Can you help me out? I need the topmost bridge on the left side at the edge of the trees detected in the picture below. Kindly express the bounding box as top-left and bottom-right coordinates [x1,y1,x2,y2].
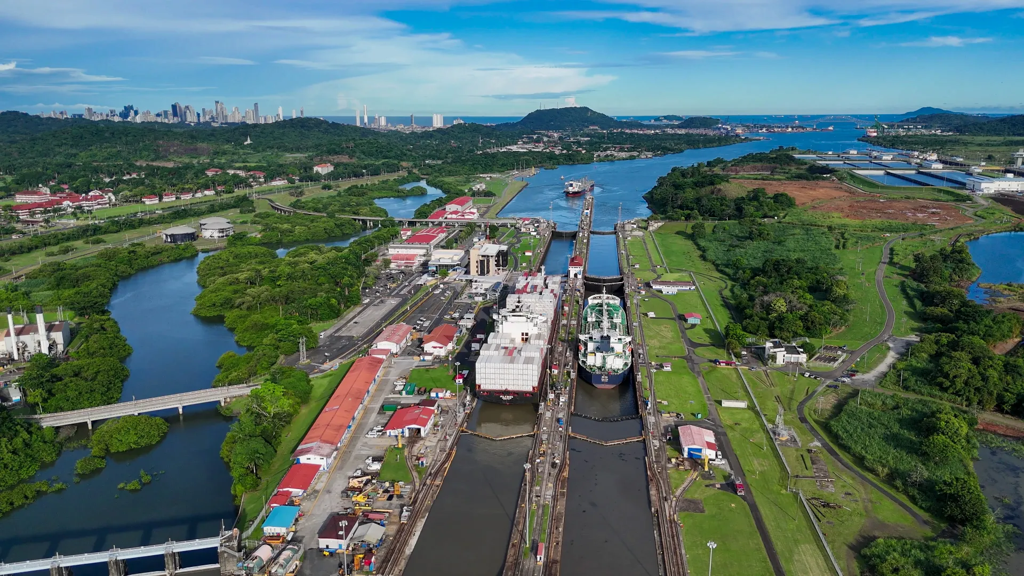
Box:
[260,198,515,229]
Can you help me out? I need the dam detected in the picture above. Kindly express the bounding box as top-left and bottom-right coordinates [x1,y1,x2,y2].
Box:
[0,515,257,576]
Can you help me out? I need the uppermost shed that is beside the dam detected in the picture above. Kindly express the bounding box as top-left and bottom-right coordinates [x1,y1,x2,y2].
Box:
[288,355,393,470]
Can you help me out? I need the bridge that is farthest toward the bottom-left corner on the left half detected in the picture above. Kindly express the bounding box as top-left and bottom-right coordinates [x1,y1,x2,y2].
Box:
[0,385,252,430]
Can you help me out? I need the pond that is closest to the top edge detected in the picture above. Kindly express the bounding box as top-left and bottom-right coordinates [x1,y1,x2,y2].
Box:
[965,231,1024,295]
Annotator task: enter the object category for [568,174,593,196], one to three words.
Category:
ship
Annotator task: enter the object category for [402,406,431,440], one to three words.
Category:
shed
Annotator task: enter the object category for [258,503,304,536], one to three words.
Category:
shed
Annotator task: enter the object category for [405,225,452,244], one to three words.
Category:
building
